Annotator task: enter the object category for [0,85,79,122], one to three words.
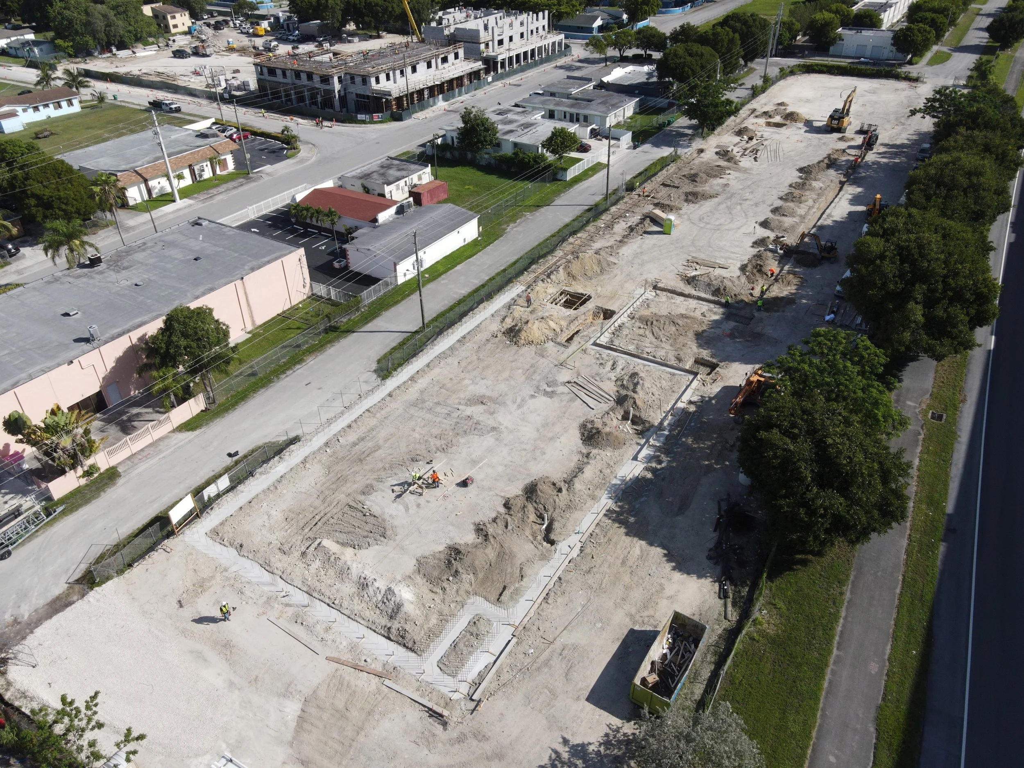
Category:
house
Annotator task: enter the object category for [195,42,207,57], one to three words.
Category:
vehicle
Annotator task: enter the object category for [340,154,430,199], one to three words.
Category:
house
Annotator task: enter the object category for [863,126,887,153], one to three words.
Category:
work vehicle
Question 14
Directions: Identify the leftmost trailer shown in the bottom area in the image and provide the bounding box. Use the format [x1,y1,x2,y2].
[0,492,66,561]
